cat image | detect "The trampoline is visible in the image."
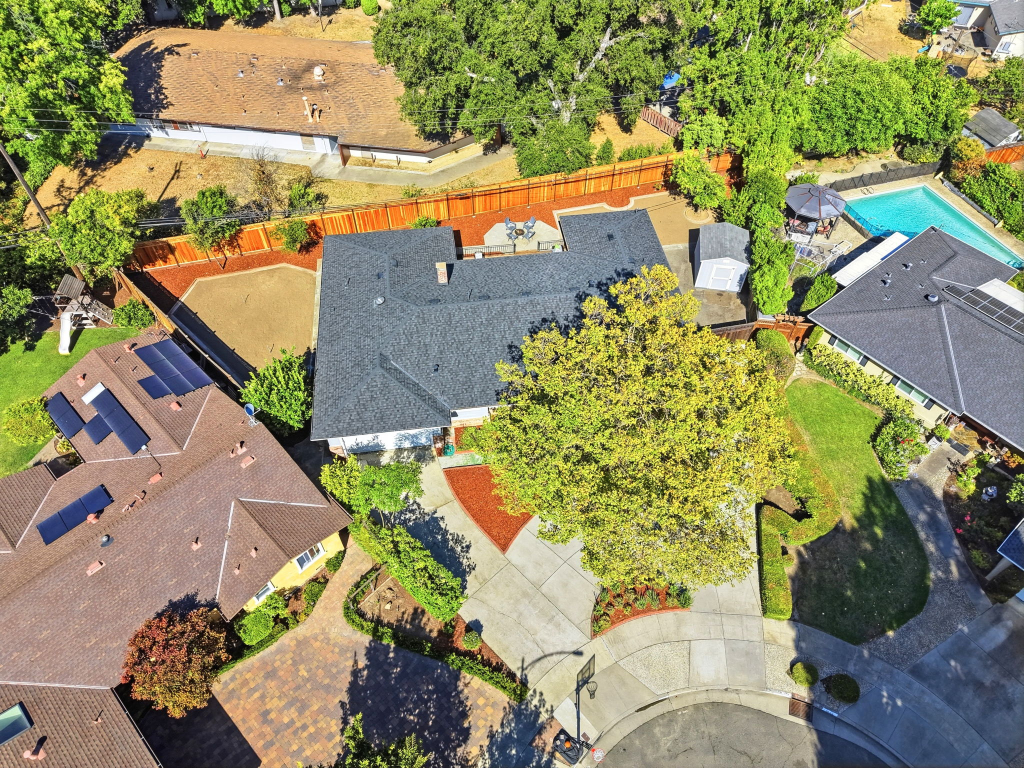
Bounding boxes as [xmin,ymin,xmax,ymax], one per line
[938,36,990,79]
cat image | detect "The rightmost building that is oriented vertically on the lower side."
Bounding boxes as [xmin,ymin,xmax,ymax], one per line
[989,514,1024,600]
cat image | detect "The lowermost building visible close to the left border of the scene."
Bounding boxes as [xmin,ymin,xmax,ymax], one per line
[0,332,357,768]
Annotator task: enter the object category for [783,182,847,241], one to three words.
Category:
gazebo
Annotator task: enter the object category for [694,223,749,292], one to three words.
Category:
shed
